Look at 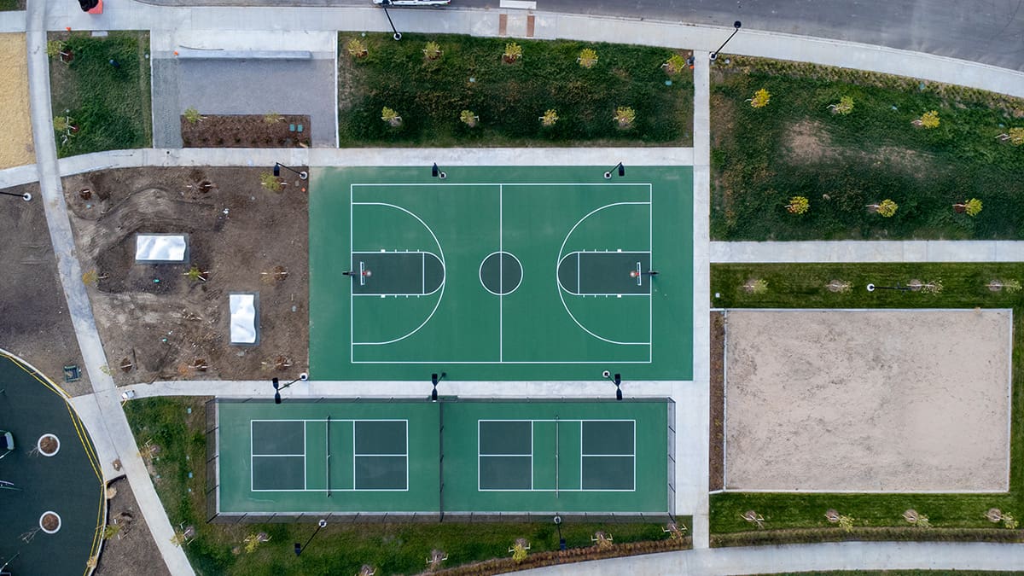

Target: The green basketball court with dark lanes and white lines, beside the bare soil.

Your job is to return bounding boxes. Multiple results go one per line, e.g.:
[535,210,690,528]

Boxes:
[308,166,693,381]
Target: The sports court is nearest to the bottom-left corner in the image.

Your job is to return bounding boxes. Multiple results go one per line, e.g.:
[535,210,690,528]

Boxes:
[219,395,442,512]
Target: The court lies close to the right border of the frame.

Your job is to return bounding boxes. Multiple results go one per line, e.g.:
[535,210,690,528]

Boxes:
[710,308,1014,496]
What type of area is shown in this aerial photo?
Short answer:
sports ground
